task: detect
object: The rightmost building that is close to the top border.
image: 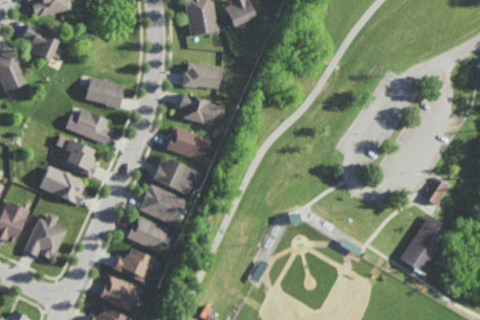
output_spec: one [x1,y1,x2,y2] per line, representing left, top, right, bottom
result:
[222,0,259,28]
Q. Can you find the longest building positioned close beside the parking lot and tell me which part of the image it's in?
bottom right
